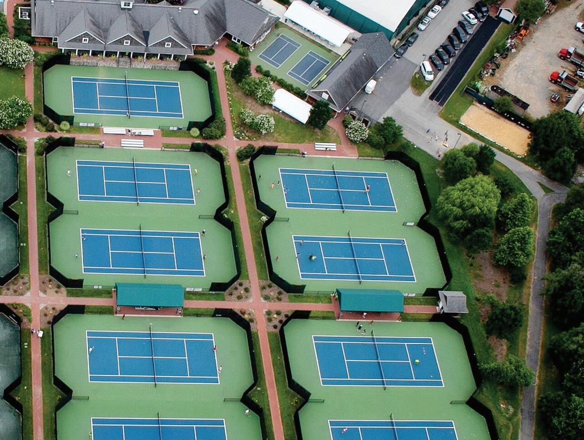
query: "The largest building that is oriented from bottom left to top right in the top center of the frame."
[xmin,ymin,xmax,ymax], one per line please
[303,34,396,122]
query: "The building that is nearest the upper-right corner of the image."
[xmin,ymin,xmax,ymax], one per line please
[497,0,525,25]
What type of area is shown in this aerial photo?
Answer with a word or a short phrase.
sports ground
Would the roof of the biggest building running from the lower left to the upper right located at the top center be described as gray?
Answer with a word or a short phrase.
Yes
